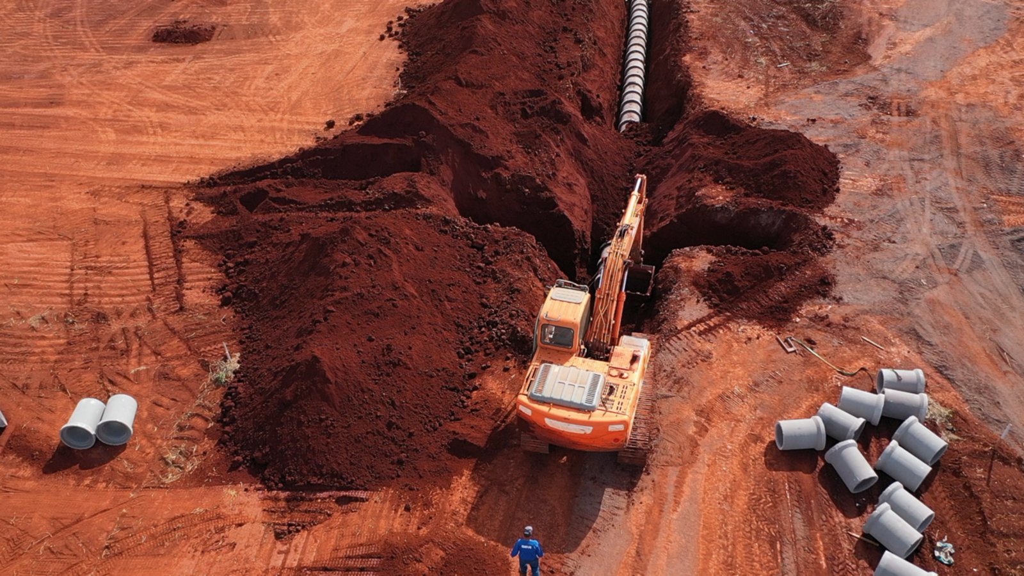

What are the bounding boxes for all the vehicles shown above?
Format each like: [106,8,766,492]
[516,169,660,466]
